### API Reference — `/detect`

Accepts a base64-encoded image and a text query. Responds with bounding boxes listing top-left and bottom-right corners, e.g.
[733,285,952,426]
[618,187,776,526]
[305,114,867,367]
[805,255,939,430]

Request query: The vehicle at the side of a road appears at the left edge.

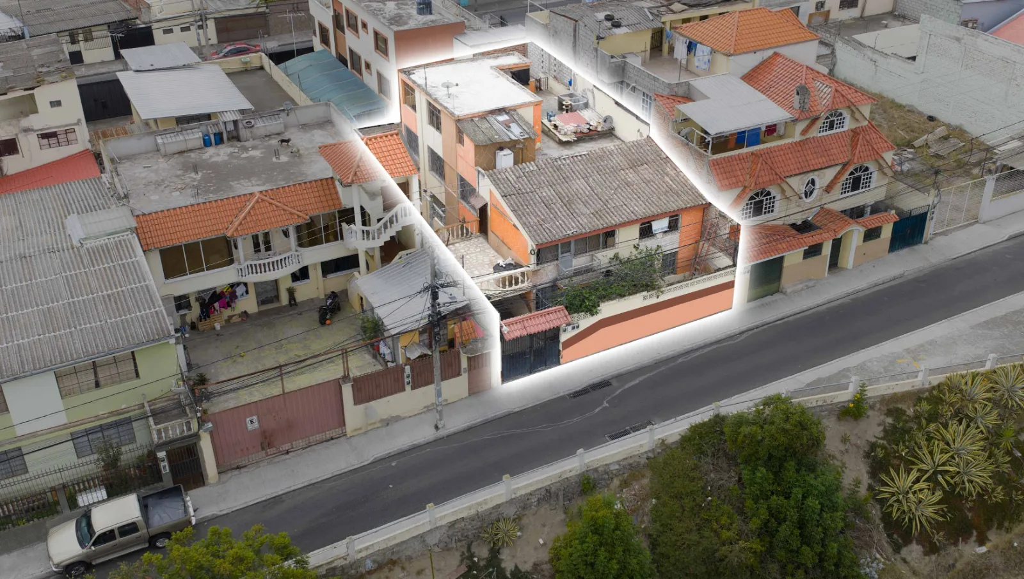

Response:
[47,482,202,575]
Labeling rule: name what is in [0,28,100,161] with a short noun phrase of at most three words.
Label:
house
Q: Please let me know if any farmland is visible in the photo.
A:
No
